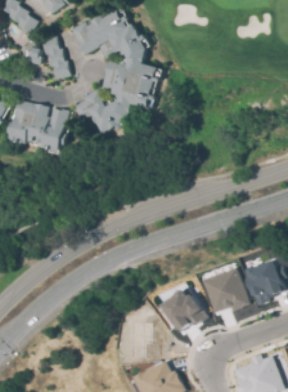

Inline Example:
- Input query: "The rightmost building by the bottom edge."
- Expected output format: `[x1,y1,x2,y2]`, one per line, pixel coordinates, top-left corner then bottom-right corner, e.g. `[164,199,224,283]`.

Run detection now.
[232,356,285,392]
